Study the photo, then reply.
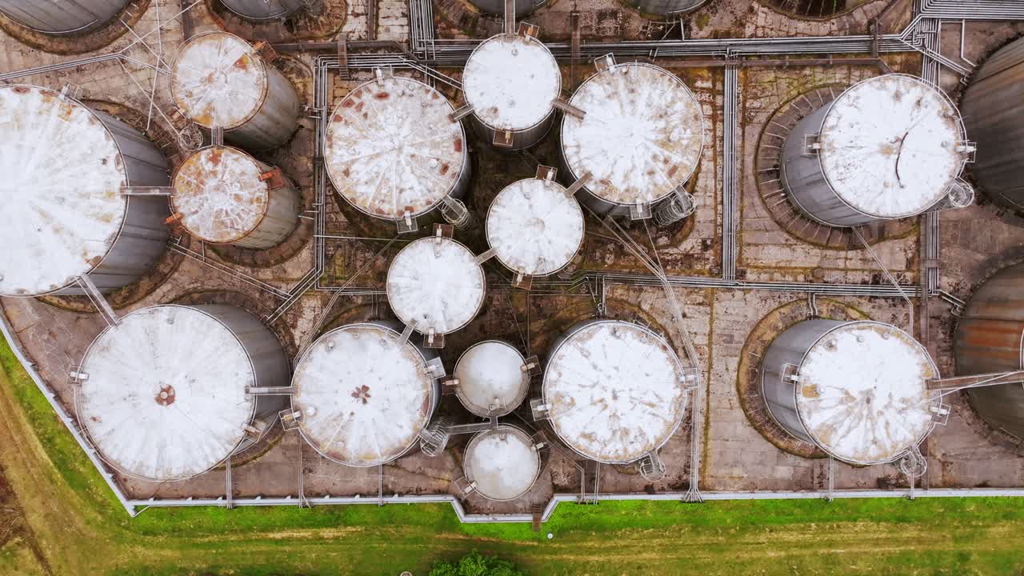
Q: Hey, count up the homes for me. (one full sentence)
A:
There are no homes in the image.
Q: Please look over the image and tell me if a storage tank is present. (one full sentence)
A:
Yes, the image includes a storage tank.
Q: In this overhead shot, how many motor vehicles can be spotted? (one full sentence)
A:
The count of motor vehicles is 0.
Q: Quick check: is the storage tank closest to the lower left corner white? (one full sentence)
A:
Yes, white is the color of the storage tank closest to the lower left corner.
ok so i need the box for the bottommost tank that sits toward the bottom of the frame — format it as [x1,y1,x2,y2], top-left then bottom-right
[451,409,555,506]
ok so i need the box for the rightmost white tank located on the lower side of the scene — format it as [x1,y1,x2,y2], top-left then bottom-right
[758,317,963,468]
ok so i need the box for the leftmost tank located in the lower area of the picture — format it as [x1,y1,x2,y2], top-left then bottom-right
[52,301,290,485]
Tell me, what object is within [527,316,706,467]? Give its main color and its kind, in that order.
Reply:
white storage tank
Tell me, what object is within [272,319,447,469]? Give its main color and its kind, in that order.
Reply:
white storage tank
